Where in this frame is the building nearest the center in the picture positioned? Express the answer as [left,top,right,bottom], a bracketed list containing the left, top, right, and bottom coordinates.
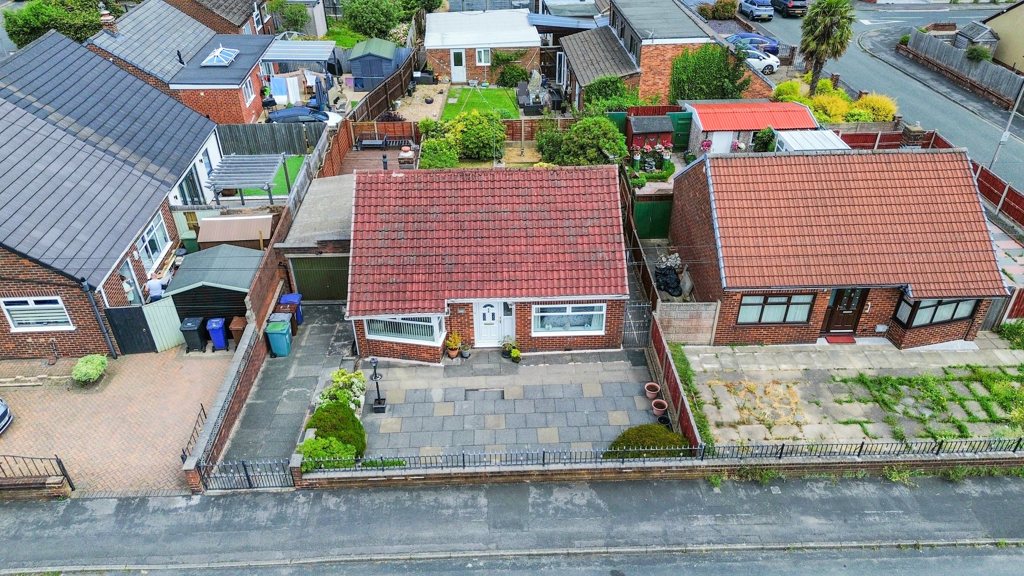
[344,144,632,361]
